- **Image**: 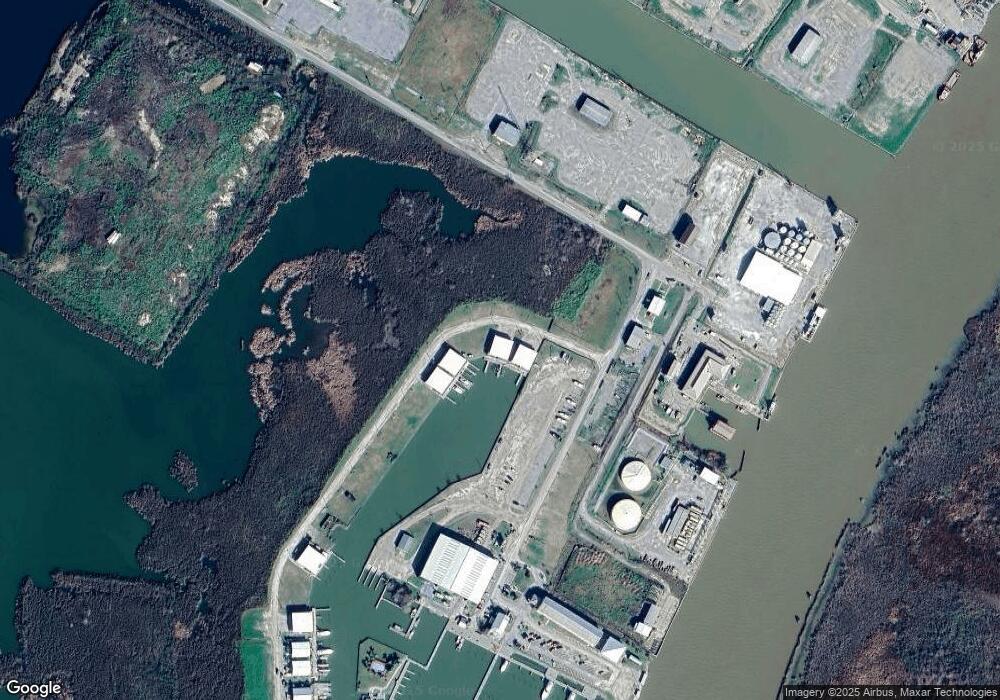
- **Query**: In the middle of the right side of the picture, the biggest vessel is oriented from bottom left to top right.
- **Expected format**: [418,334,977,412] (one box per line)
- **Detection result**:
[799,302,830,344]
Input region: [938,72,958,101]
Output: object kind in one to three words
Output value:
vessel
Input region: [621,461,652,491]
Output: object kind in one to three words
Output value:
storage tank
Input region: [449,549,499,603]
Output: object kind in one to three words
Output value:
shed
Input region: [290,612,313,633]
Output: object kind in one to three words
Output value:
building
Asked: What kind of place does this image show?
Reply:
port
